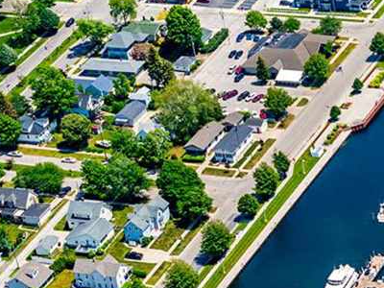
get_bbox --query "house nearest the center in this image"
[186,120,227,158]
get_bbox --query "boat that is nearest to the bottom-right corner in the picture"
[320,250,362,288]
